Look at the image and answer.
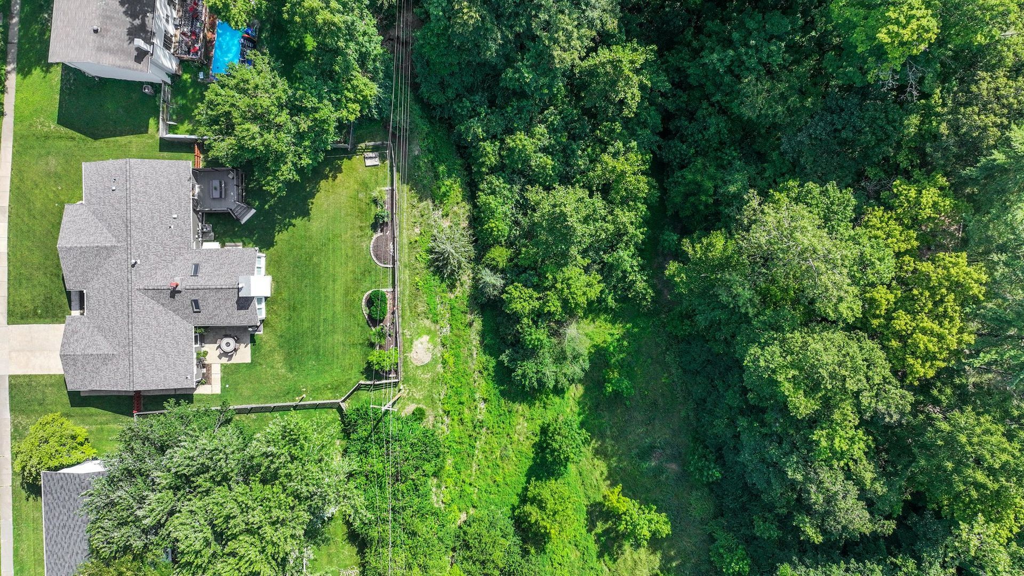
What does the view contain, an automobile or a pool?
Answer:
pool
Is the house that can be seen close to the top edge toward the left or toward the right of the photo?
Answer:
left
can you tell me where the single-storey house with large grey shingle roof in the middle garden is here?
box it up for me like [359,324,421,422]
[54,158,273,391]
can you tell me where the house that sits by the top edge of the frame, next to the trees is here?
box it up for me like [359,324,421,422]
[48,0,192,86]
